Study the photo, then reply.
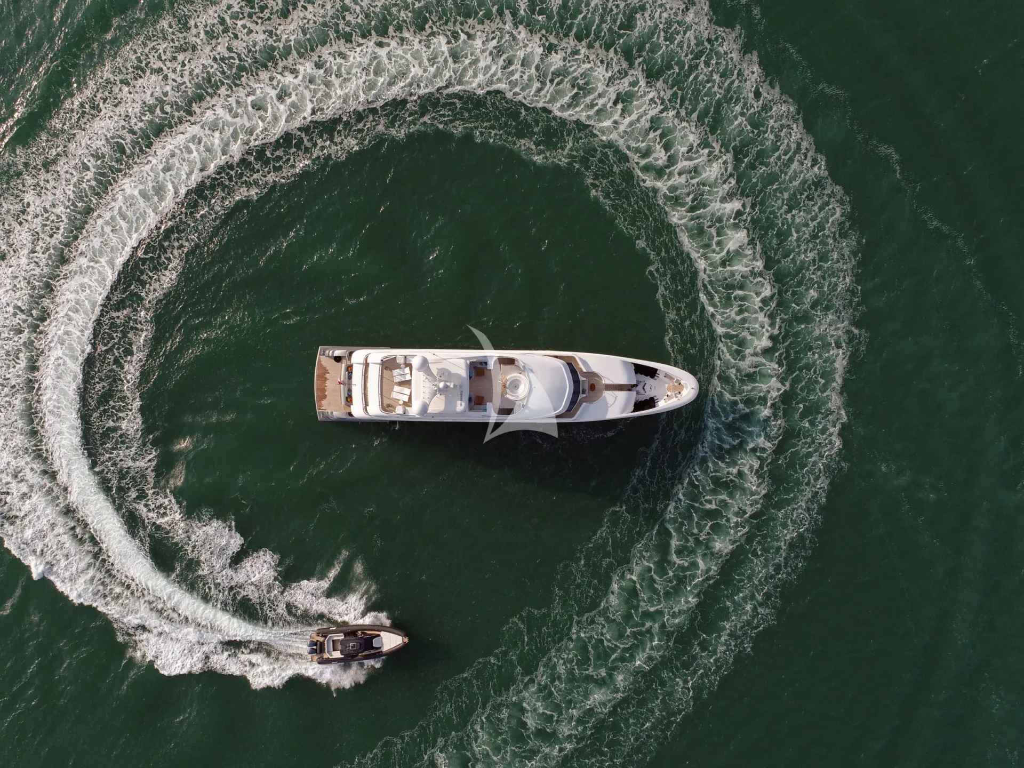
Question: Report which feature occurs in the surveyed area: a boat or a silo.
boat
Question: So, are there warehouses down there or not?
No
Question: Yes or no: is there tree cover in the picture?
No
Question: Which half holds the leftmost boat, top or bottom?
bottom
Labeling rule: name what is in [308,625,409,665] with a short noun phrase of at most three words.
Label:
boat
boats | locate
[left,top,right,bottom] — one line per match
[308,625,409,665]
[314,347,699,423]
